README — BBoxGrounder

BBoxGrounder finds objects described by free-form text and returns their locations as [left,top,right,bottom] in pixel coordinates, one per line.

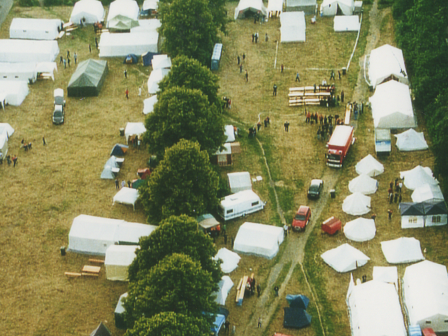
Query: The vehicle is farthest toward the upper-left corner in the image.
[52,87,65,106]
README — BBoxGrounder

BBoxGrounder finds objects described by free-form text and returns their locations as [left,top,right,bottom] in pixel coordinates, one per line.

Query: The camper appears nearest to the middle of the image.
[223,193,269,218]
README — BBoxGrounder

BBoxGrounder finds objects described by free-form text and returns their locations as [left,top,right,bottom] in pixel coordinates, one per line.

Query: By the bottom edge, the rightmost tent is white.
[400,259,448,332]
